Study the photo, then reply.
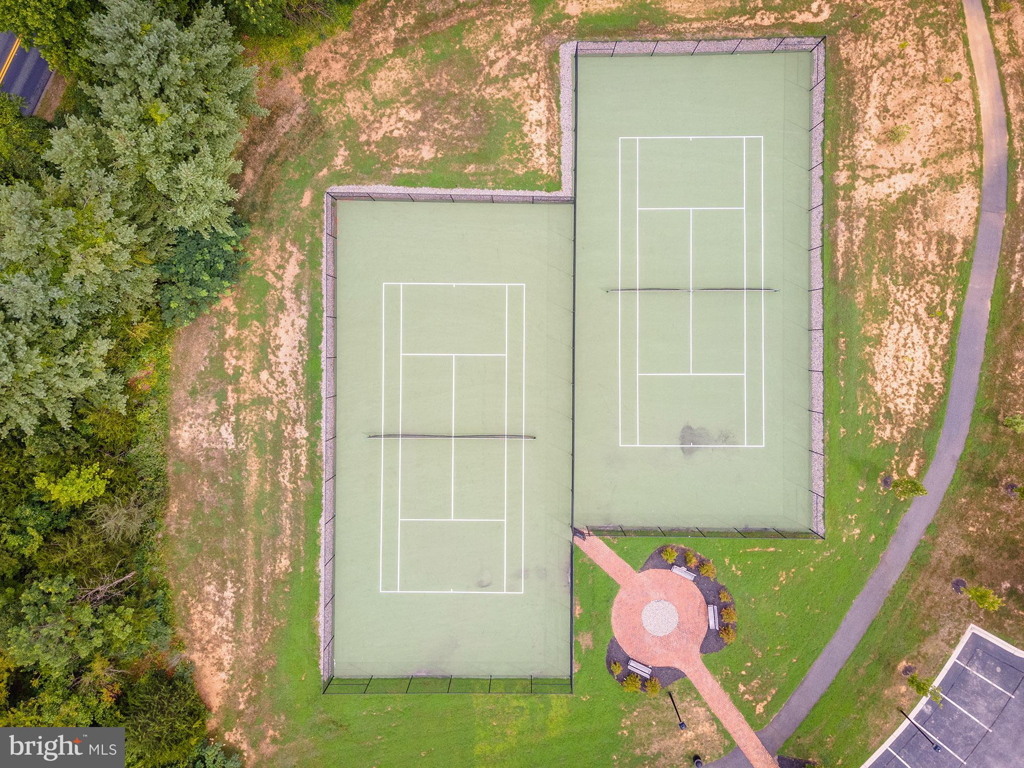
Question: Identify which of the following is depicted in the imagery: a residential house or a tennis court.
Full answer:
I can see a tennis court in this picture.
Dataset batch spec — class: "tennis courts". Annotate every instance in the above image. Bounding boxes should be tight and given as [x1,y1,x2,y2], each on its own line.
[570,49,813,532]
[333,200,573,678]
